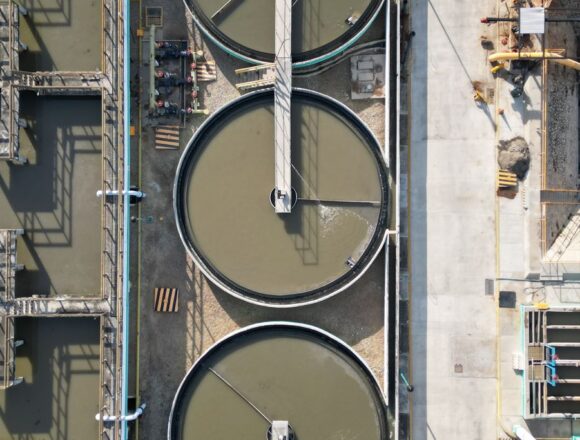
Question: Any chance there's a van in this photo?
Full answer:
No, this view has no van in it.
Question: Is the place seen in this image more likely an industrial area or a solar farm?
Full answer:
This image shows an industrial area.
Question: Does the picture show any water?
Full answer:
Yes, water can be seen from above here.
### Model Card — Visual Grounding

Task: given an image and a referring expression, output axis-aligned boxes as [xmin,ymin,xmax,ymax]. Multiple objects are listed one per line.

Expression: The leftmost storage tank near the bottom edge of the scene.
[169,319,386,440]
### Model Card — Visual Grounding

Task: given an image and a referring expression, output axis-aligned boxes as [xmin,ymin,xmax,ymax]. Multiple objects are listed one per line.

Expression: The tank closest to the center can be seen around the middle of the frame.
[173,88,390,306]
